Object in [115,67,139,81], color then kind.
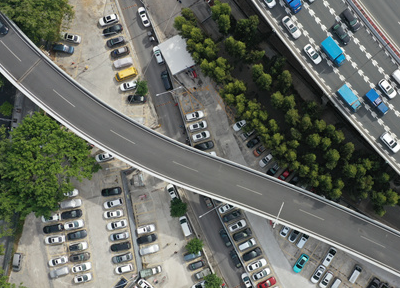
yellow vehicle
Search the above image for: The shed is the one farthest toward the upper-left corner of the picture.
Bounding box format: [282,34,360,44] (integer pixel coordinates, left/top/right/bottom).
[158,35,199,78]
